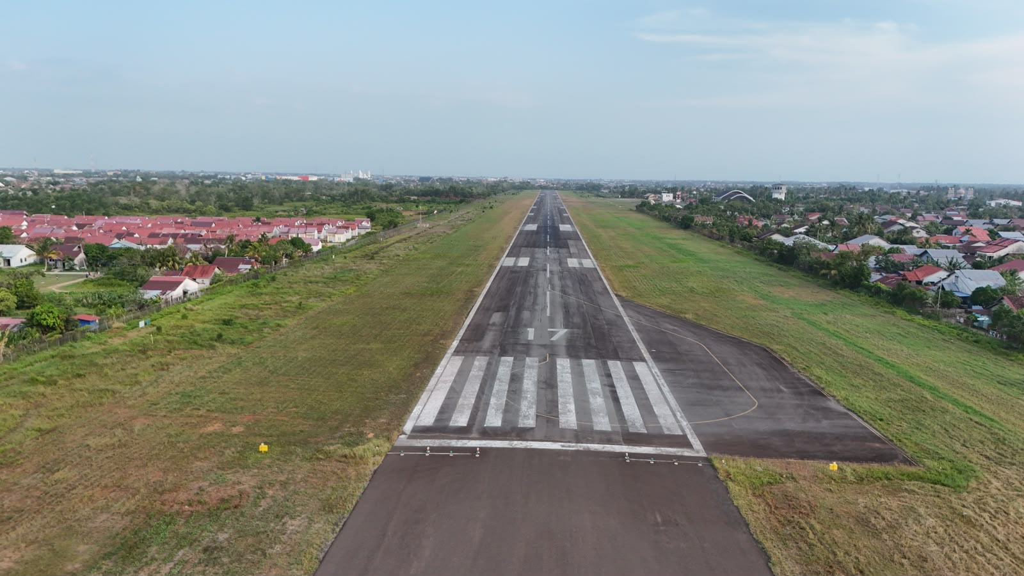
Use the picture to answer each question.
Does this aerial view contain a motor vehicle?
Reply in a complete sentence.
No, I can see no motor vehicle in this picture.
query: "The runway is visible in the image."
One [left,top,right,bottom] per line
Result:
[401,190,707,450]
